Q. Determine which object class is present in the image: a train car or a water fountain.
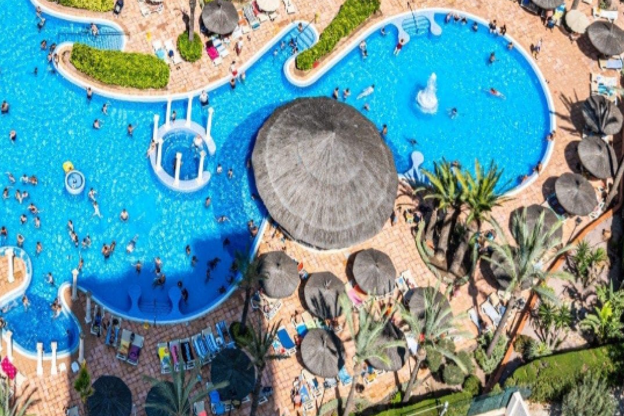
water fountain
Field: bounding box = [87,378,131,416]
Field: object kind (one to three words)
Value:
umbrella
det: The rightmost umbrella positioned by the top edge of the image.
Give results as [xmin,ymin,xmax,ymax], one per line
[586,20,624,69]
